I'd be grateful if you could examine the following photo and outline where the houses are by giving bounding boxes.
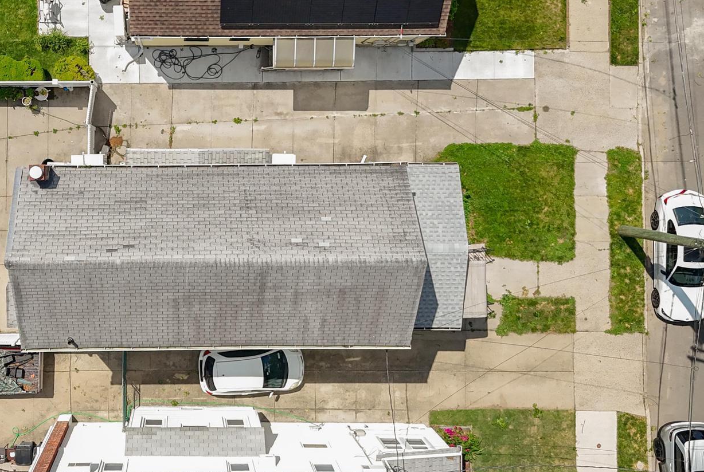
[0,407,467,472]
[2,149,503,359]
[126,0,453,79]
